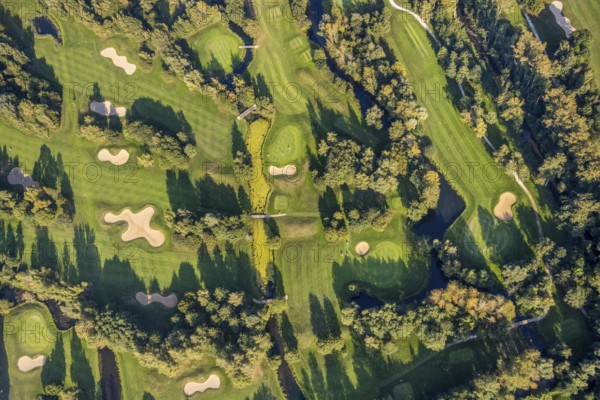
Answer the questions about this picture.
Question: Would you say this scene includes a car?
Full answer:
No, the picture doesn't show any car.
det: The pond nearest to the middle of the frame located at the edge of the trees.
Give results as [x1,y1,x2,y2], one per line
[350,169,466,309]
